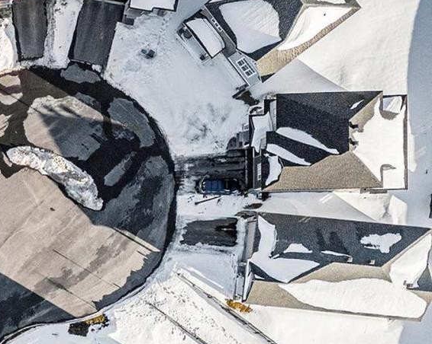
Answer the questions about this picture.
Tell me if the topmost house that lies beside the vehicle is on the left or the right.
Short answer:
right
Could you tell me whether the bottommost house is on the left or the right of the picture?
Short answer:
right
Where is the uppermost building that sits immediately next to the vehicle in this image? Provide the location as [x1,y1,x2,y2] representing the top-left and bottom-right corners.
[240,90,408,193]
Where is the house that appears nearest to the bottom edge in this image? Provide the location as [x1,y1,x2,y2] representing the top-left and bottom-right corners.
[233,212,432,323]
